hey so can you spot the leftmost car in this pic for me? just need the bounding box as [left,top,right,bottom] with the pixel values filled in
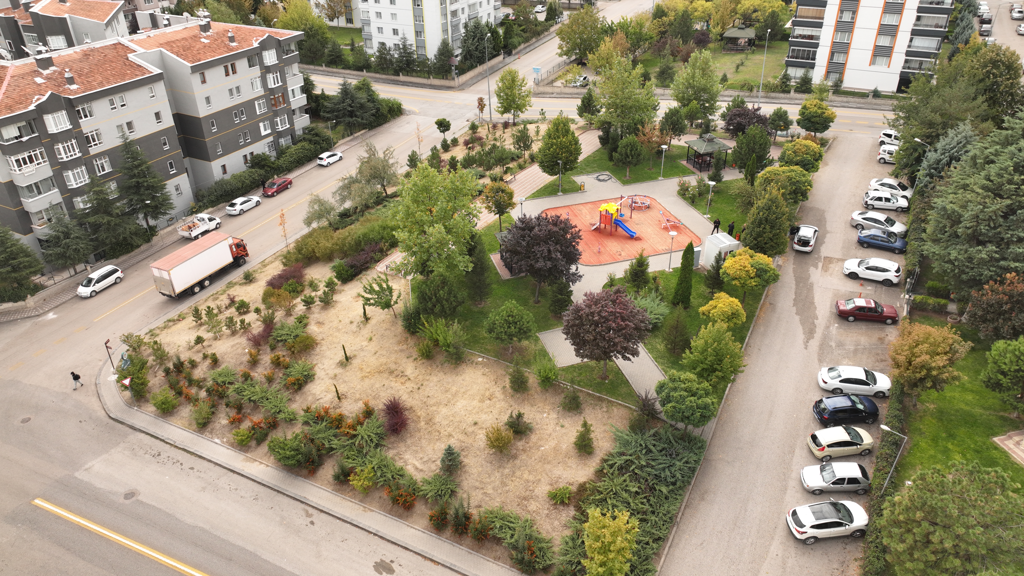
[73,266,124,299]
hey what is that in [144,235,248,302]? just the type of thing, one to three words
truck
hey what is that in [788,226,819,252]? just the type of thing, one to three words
car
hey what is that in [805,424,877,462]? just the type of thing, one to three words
car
